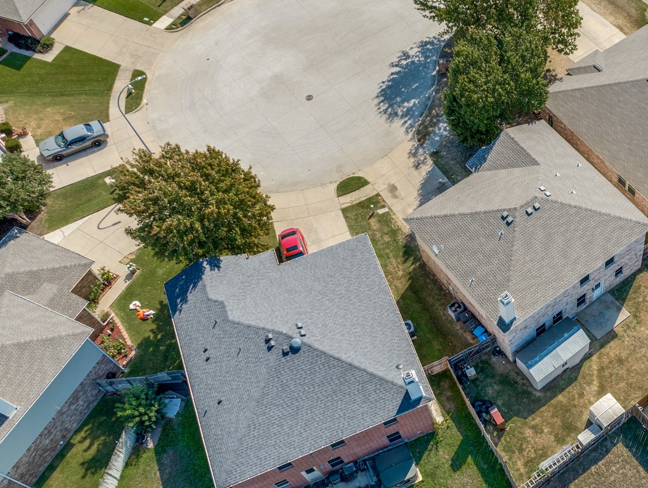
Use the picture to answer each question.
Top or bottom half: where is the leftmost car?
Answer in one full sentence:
The leftmost car sits in the top half of the picture.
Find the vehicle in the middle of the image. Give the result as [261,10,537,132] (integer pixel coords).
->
[275,221,310,261]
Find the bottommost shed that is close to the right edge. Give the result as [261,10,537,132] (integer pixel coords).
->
[589,394,624,432]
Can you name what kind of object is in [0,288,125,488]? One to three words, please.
house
